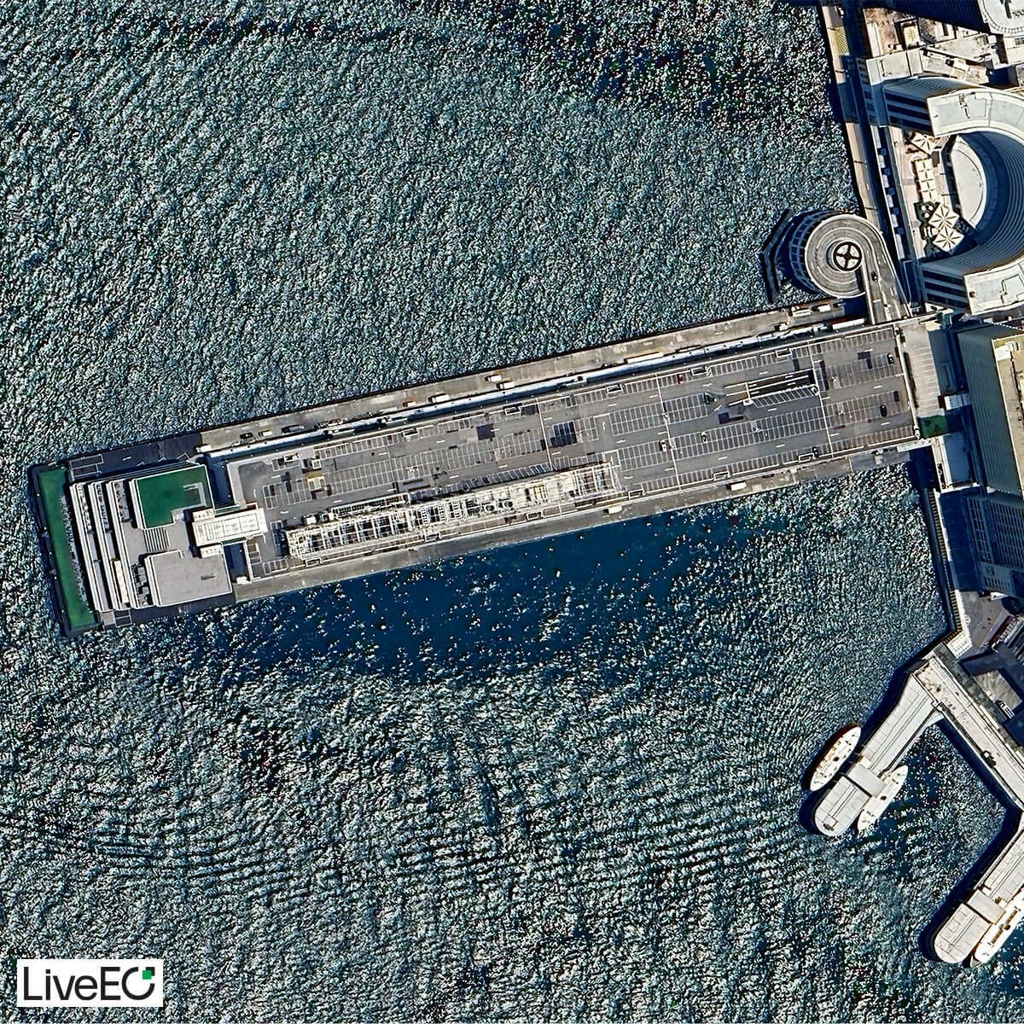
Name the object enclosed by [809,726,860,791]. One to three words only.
vessel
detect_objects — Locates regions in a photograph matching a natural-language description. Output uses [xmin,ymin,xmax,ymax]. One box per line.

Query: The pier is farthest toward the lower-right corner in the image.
[924,807,1024,963]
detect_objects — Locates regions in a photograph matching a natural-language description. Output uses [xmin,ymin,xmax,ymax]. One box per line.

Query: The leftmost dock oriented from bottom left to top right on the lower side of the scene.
[806,673,945,837]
